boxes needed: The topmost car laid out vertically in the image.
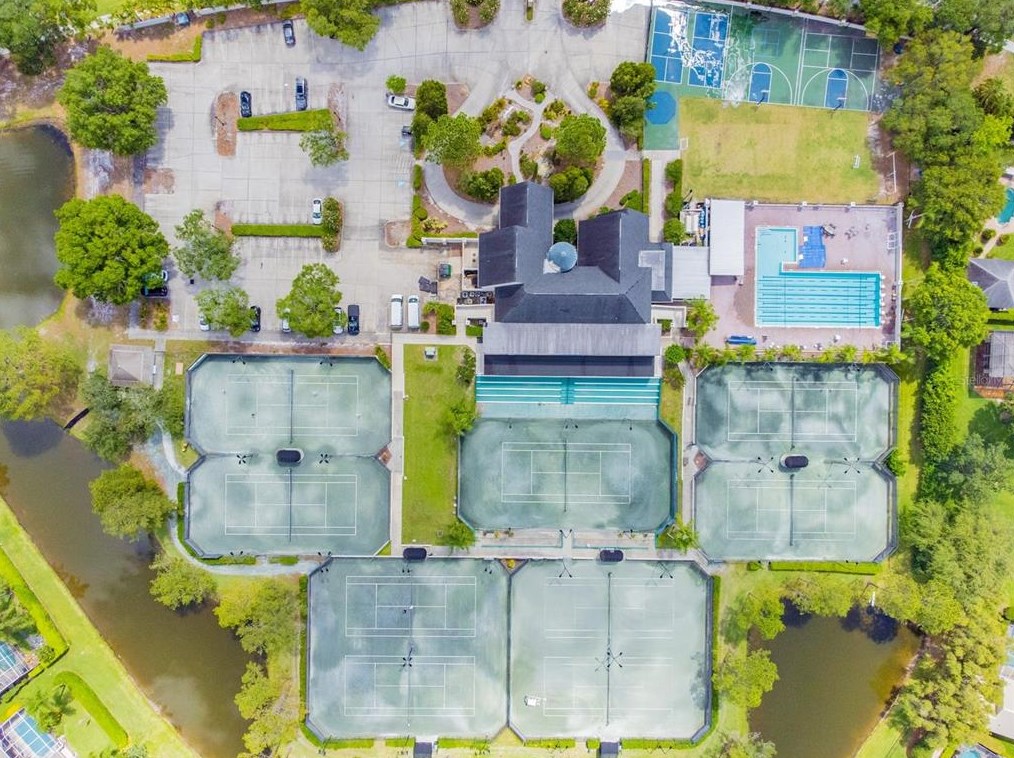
[282,20,296,47]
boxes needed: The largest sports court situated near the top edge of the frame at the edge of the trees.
[646,2,878,151]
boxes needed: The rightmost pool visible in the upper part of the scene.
[988,188,1014,233]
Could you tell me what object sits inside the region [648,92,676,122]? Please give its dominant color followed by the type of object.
blue sports court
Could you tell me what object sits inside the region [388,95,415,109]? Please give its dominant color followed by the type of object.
white vehicle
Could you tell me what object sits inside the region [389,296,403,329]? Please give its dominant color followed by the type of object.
white vehicle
